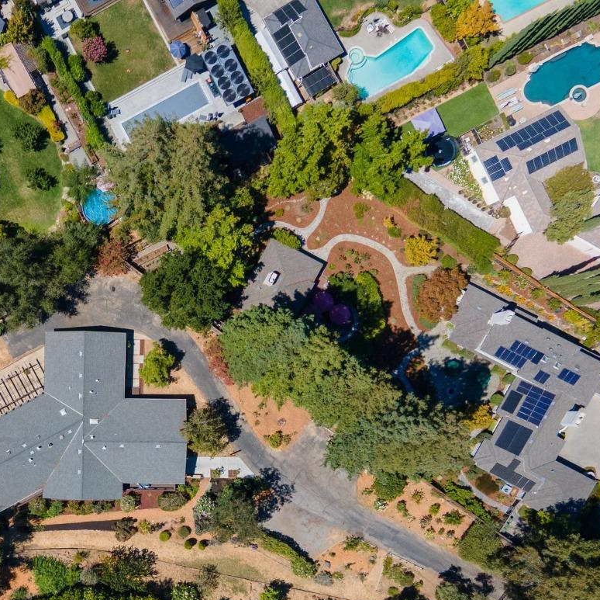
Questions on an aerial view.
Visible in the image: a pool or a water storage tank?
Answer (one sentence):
The one in the frame is a pool.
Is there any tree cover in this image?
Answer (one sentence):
Yes, there is tree cover in the image.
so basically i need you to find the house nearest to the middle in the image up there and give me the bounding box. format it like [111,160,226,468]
[239,238,327,317]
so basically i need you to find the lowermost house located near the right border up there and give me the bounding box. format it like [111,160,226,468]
[439,281,600,503]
